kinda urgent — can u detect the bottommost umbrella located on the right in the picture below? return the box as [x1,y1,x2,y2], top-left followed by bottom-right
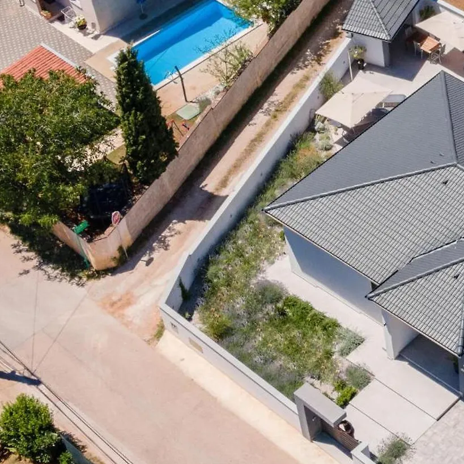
[316,50,397,128]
